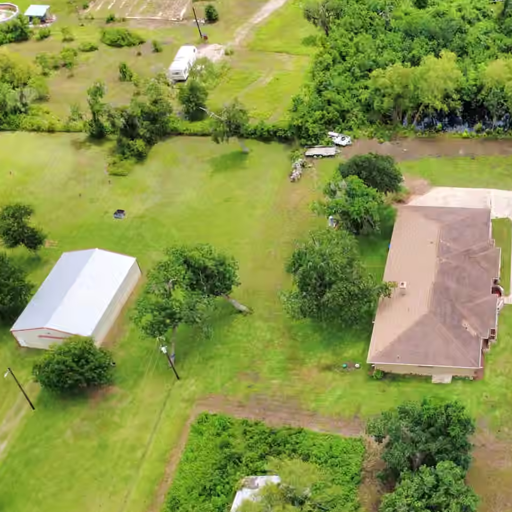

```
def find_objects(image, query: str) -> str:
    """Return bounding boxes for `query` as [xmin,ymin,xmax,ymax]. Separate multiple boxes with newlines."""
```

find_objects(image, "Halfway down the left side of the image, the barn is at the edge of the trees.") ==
[12,248,143,352]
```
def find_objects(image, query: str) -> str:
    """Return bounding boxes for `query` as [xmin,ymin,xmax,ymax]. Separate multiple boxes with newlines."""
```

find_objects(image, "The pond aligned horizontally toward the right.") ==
[403,110,512,134]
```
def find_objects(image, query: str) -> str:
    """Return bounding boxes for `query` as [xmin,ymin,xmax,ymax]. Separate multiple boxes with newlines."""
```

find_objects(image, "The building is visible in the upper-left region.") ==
[24,5,53,27]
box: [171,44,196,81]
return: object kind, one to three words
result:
camper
